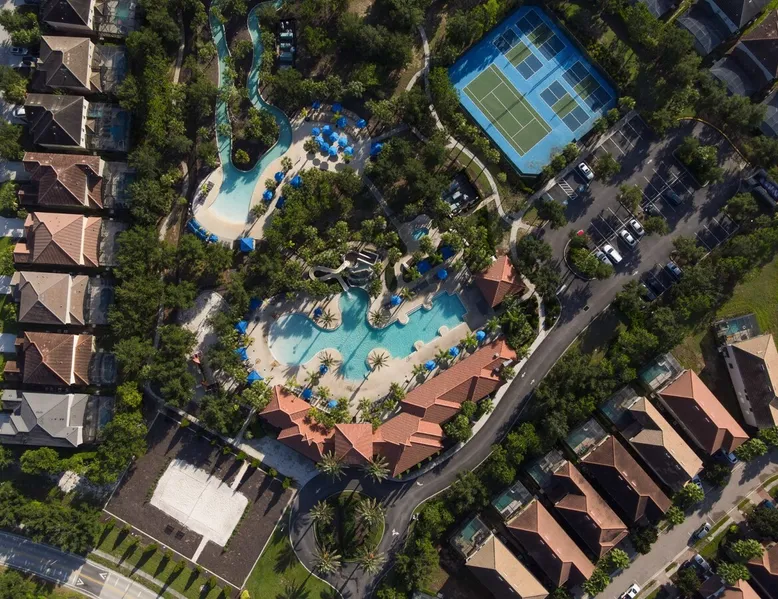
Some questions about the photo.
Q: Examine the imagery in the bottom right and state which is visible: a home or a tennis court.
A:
home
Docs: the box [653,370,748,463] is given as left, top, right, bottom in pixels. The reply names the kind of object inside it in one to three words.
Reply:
house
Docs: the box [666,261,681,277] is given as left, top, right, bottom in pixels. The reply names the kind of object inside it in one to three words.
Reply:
car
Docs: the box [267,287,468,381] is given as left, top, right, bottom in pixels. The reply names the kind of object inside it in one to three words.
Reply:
swimming pool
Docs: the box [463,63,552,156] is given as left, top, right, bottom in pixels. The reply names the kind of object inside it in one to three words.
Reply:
tennis court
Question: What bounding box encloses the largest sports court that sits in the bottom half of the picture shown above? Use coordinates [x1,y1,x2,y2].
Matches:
[103,412,295,591]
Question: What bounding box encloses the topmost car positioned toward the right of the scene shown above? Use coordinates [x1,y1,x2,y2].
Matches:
[577,163,594,180]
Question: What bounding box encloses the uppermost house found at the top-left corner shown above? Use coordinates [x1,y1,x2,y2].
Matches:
[39,0,106,33]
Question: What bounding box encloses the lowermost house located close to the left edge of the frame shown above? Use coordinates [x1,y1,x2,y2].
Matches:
[0,390,90,448]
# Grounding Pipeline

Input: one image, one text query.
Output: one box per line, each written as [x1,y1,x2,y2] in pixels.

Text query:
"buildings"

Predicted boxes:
[653,370,748,463]
[701,572,760,599]
[539,458,628,559]
[735,521,778,588]
[723,4,778,83]
[24,94,97,149]
[39,0,106,33]
[723,334,778,431]
[19,152,109,208]
[476,257,525,306]
[33,36,103,93]
[504,495,595,593]
[14,212,104,266]
[4,331,96,385]
[464,529,552,599]
[11,271,91,325]
[614,397,704,495]
[578,433,672,529]
[0,390,90,448]
[264,340,520,477]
